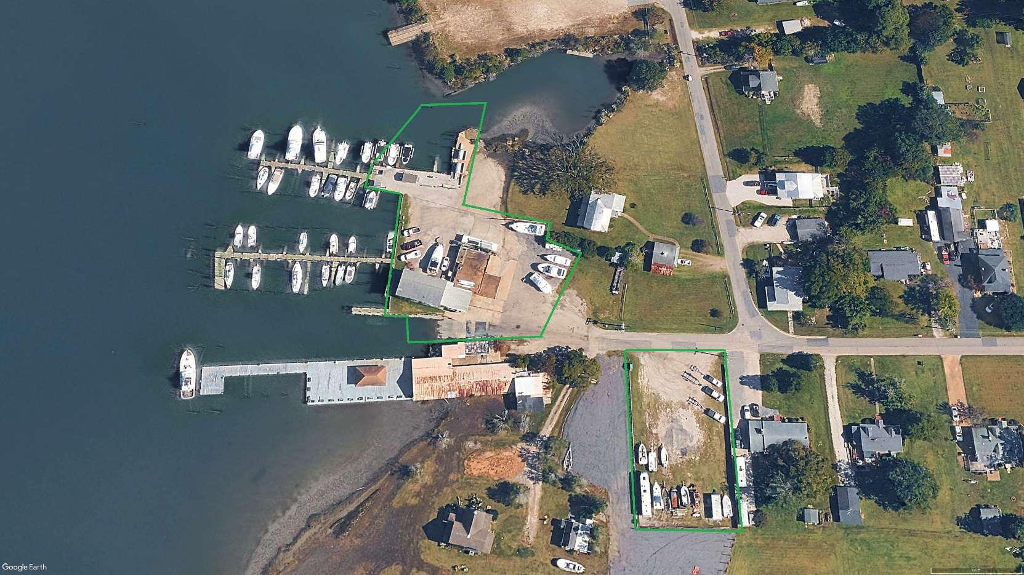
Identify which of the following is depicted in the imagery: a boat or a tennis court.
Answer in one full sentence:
The image shows a boat.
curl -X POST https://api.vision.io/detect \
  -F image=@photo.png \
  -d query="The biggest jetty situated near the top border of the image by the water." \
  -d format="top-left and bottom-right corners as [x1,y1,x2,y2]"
[388,20,435,45]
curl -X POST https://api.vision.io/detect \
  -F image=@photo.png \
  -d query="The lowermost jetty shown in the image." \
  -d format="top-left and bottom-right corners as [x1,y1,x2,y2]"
[351,308,444,320]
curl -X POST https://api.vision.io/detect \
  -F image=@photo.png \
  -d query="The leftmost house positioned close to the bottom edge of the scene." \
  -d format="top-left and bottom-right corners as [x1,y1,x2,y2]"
[447,511,494,555]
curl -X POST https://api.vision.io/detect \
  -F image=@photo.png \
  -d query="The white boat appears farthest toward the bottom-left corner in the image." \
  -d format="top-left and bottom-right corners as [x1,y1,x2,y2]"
[180,349,196,399]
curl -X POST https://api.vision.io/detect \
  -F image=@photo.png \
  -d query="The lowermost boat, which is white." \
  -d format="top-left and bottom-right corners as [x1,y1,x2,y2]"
[556,559,585,572]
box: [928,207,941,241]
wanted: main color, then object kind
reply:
white vehicle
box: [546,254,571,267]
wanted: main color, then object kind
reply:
white boat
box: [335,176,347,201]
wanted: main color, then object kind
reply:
white boat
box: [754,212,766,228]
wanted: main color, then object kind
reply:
white vehicle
